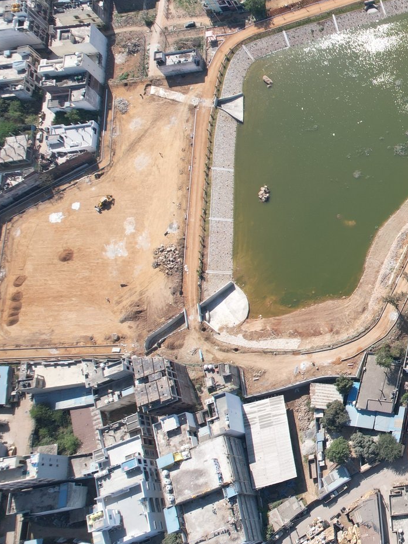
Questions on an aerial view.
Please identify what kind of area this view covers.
residential area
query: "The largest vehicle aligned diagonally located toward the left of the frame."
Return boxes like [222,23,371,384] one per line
[95,193,117,214]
